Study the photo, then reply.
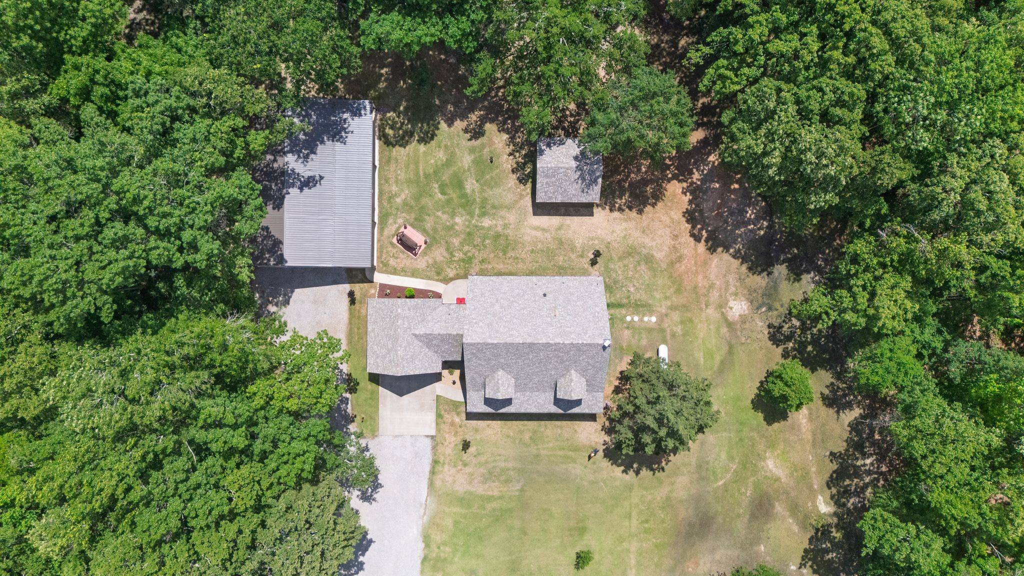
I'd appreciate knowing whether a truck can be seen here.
No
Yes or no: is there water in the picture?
No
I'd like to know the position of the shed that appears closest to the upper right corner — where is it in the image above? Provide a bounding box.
[536,138,602,203]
